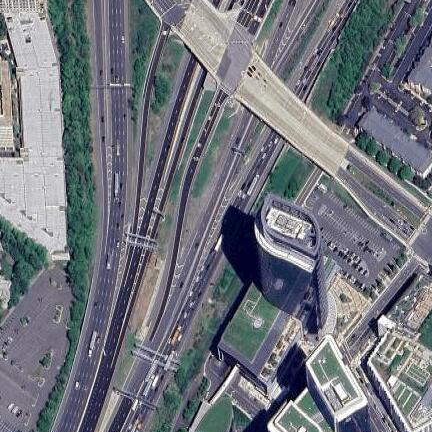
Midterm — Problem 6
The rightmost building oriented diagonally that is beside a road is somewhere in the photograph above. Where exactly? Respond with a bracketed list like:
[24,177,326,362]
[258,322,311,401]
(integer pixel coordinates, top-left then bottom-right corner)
[359,108,432,179]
